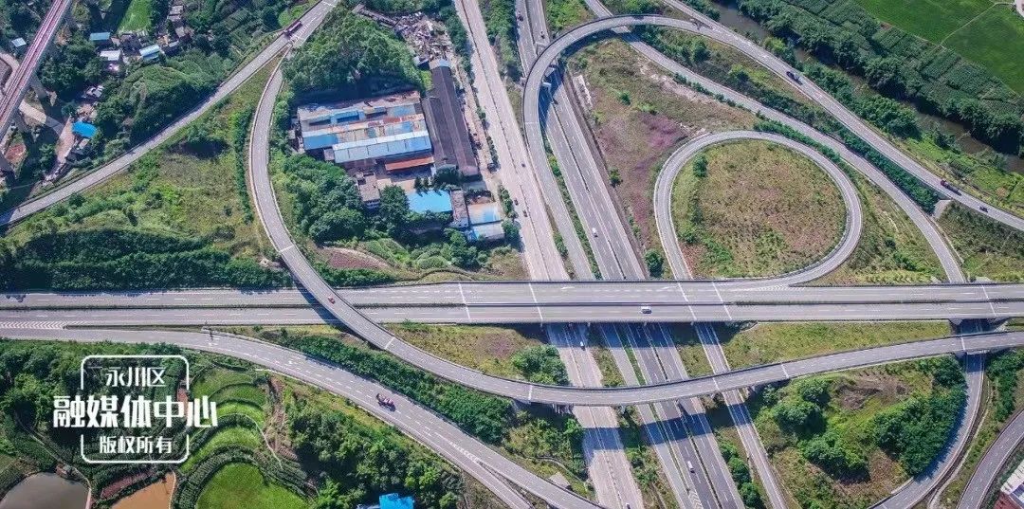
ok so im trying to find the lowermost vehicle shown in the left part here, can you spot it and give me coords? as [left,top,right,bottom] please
[377,392,394,407]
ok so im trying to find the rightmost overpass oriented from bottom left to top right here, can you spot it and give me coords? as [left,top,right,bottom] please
[523,13,655,153]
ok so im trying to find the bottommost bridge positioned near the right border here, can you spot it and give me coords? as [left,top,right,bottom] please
[941,331,1004,353]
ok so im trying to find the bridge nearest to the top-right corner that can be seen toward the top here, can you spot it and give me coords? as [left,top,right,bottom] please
[890,152,952,219]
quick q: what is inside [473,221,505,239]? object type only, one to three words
shed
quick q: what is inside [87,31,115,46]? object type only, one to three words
house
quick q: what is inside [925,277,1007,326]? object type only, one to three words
overpass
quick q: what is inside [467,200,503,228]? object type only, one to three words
building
